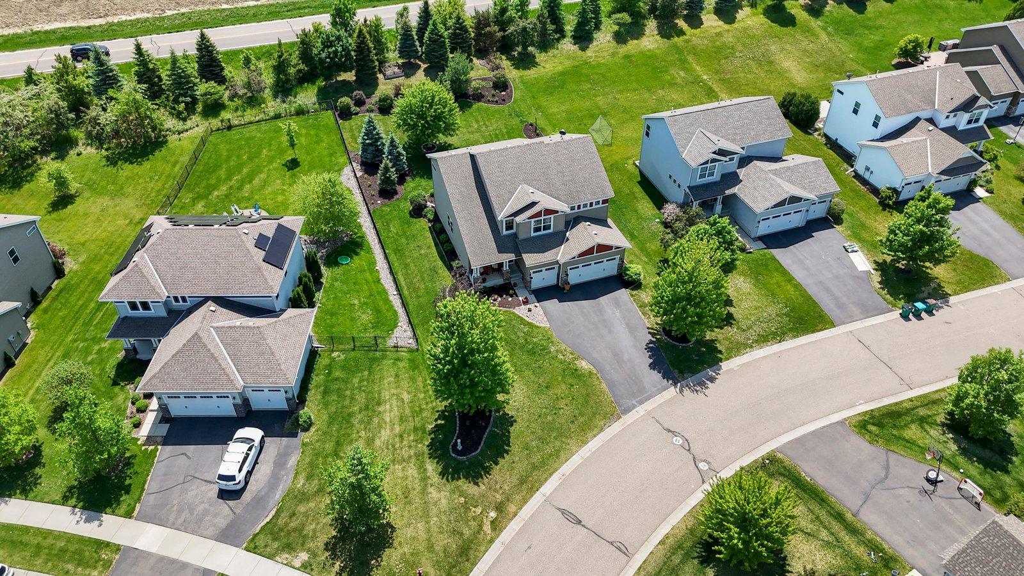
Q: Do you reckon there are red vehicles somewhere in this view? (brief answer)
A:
No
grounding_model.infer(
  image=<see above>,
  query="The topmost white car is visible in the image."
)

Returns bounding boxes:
[214,427,268,491]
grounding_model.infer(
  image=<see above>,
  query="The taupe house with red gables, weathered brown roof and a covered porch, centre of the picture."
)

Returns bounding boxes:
[428,125,633,294]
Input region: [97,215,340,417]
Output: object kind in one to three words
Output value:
house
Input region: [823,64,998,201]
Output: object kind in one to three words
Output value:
house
